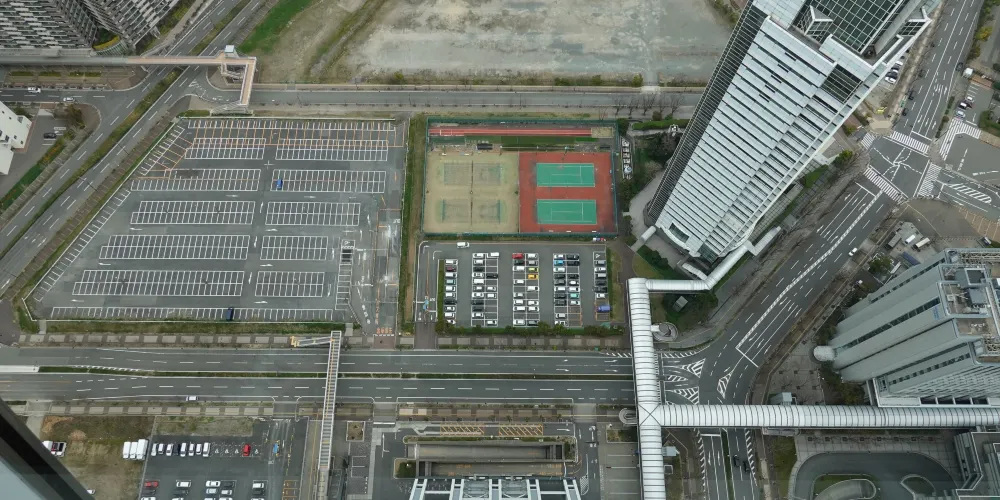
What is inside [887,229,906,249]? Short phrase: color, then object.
gray vehicle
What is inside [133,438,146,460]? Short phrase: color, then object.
white vehicle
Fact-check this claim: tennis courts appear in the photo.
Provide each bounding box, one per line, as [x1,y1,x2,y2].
[520,152,612,193]
[424,152,520,191]
[520,193,614,232]
[423,191,520,232]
